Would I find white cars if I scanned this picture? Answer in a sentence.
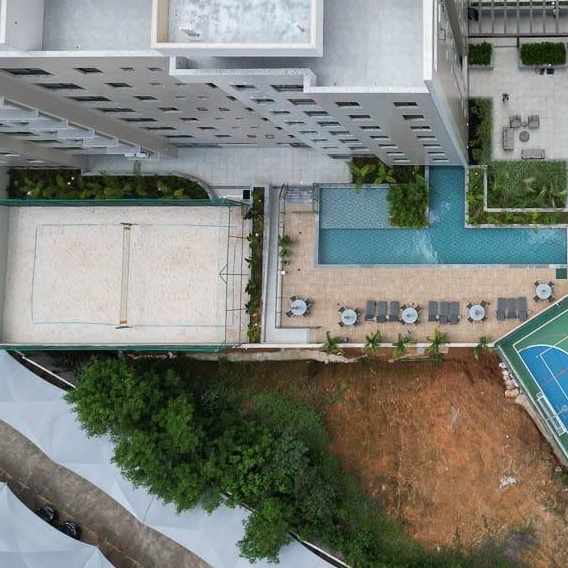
No, this view has no white car in it.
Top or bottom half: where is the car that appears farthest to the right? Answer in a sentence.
You can find the car that appears farthest to the right in the bottom half.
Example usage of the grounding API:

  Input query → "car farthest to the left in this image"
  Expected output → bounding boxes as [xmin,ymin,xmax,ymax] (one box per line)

[33,496,63,526]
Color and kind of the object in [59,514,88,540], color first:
black car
